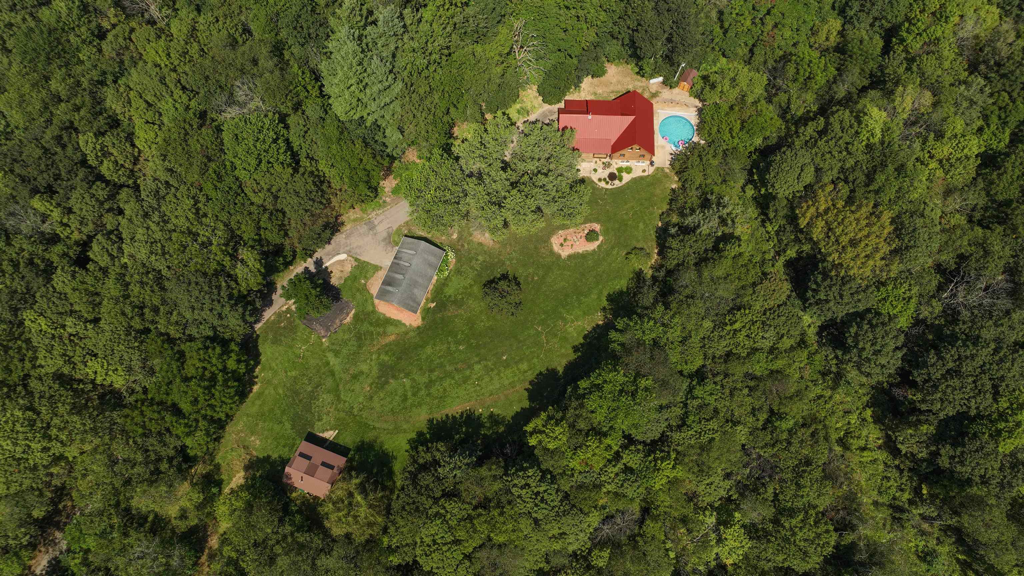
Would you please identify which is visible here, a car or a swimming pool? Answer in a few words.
swimming pool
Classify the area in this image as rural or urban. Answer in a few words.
rural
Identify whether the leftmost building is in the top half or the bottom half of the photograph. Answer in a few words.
bottom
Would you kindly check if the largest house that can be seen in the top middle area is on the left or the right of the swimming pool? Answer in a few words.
to the left of it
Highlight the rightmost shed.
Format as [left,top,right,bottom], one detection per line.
[678,63,701,92]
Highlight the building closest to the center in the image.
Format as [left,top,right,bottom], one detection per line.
[375,236,444,316]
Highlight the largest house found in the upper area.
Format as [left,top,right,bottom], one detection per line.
[558,91,655,164]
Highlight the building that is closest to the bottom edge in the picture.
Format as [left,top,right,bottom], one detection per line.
[286,441,349,504]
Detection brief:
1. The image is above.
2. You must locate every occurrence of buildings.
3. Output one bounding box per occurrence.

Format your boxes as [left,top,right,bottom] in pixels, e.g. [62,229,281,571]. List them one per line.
[558,91,655,164]
[286,441,349,504]
[678,63,701,92]
[375,236,444,316]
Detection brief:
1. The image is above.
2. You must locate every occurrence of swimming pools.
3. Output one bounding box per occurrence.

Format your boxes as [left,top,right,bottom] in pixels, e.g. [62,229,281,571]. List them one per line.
[658,114,696,153]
